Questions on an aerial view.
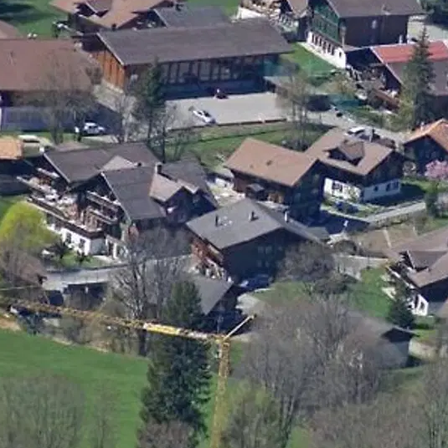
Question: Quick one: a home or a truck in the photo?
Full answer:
The one in the frame is a home.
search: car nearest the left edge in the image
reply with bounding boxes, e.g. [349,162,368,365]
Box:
[21,133,47,146]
